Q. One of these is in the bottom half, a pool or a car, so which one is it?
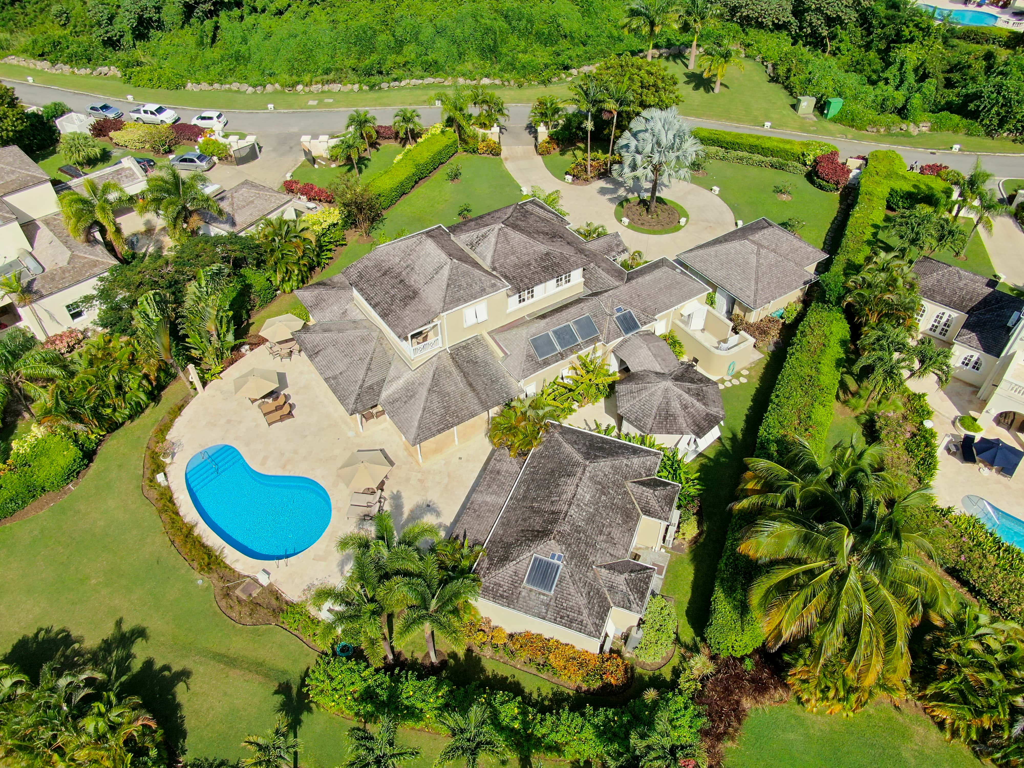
pool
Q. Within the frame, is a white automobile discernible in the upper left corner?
Yes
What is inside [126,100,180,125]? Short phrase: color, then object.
white truck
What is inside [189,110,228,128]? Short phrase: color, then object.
white car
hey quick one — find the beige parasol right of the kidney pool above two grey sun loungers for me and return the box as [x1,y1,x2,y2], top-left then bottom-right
[338,448,391,490]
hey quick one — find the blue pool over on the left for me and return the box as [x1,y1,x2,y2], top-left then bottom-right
[181,441,336,564]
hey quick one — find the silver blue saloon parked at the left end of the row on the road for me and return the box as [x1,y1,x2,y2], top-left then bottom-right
[80,100,125,119]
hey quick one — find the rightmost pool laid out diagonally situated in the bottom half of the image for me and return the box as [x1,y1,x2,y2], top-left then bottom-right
[957,491,1024,557]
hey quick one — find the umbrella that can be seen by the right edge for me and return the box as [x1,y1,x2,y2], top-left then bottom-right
[969,432,1024,472]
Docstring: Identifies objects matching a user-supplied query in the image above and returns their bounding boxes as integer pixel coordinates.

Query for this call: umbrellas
[969,432,1024,472]
[236,372,284,410]
[259,313,306,350]
[338,448,391,490]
